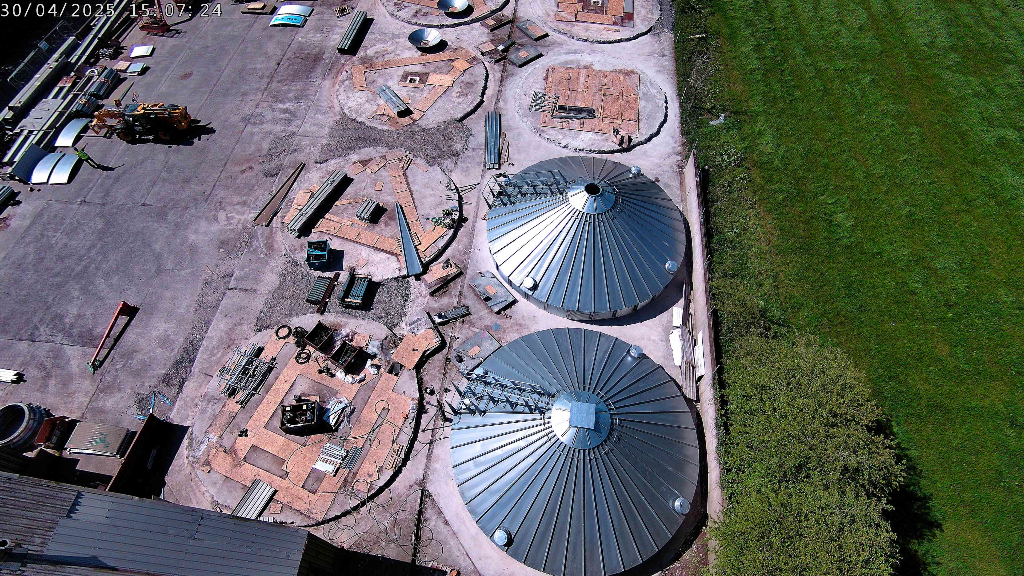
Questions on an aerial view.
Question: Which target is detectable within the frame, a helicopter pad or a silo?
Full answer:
There is a silo in the scene.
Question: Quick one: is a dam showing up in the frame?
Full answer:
No, I find no dam anywhere in the image.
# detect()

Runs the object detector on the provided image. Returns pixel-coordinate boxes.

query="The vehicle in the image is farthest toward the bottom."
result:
[88,88,194,142]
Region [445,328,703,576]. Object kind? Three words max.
silo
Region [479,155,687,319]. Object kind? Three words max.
silo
